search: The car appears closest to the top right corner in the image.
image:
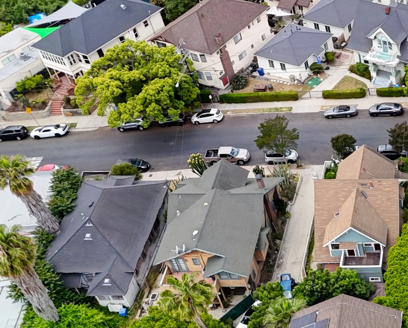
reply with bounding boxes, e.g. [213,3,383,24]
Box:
[368,101,404,117]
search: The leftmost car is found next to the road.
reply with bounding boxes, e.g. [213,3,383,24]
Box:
[0,120,33,142]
